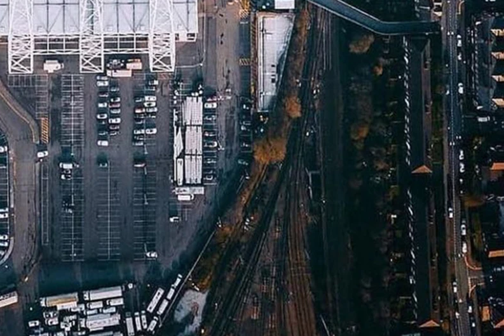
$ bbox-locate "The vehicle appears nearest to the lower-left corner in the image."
[0,291,19,307]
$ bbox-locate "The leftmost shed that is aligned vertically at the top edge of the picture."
[255,9,293,113]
